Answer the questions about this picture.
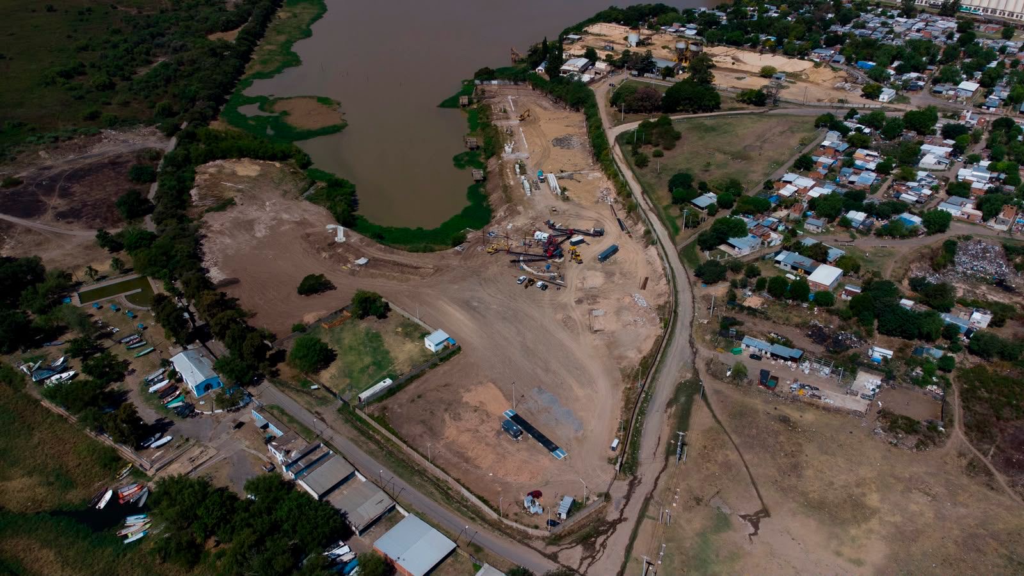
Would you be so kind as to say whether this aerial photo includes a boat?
Yes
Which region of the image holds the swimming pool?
left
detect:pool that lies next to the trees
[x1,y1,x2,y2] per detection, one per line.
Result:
[73,274,160,312]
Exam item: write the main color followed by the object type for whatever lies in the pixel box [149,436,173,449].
white boat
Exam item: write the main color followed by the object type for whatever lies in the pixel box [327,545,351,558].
white boat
